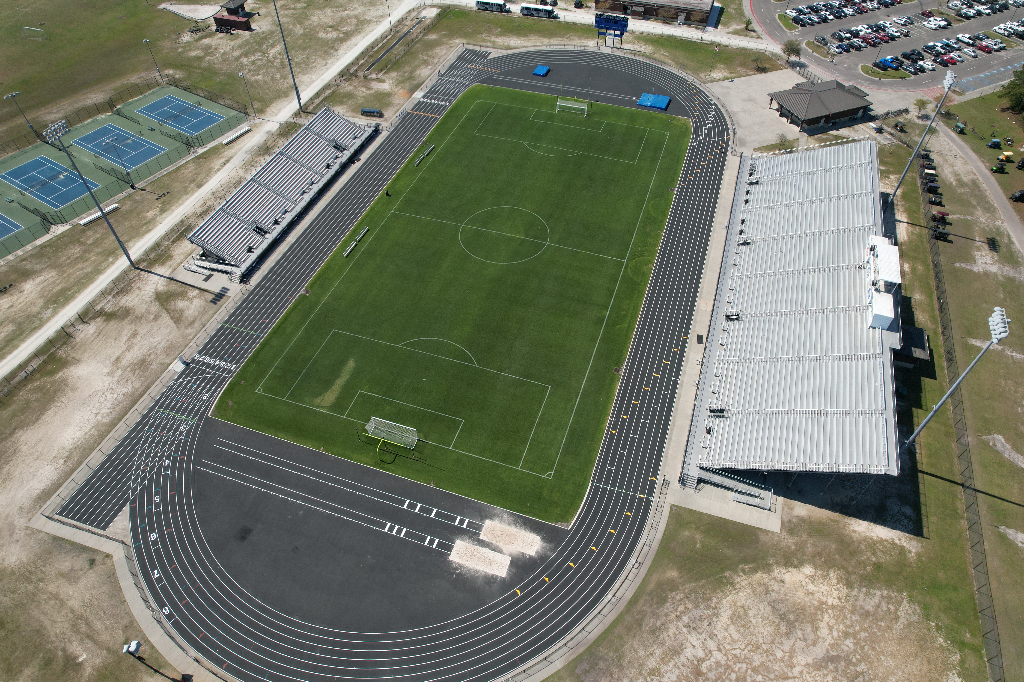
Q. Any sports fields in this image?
Yes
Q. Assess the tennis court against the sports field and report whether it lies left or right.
left of it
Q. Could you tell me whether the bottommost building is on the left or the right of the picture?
right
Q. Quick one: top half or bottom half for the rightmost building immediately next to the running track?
top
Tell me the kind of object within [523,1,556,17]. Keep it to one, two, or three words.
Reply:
vehicle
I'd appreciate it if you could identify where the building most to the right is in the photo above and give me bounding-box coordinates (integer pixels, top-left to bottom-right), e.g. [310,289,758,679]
[890,324,930,368]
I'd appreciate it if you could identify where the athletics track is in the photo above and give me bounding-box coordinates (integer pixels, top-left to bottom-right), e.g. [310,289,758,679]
[53,48,731,682]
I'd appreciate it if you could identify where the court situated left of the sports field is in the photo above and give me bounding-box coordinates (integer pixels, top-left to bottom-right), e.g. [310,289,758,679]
[0,94,225,239]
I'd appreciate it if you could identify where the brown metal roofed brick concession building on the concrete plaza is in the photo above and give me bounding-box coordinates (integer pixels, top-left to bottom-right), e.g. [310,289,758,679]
[767,73,873,132]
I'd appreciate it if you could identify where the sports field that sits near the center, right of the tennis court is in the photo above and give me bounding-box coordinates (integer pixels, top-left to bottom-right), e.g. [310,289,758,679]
[207,83,692,528]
